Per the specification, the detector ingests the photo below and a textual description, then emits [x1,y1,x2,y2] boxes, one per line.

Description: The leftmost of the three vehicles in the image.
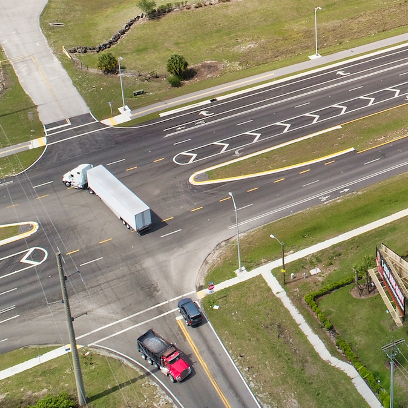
[63,162,153,233]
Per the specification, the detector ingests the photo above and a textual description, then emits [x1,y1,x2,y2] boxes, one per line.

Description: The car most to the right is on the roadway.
[180,297,205,324]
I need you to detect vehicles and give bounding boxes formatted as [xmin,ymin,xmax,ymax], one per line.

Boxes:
[63,162,153,233]
[131,328,196,383]
[180,297,205,324]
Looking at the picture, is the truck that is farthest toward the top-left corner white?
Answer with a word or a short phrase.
Yes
